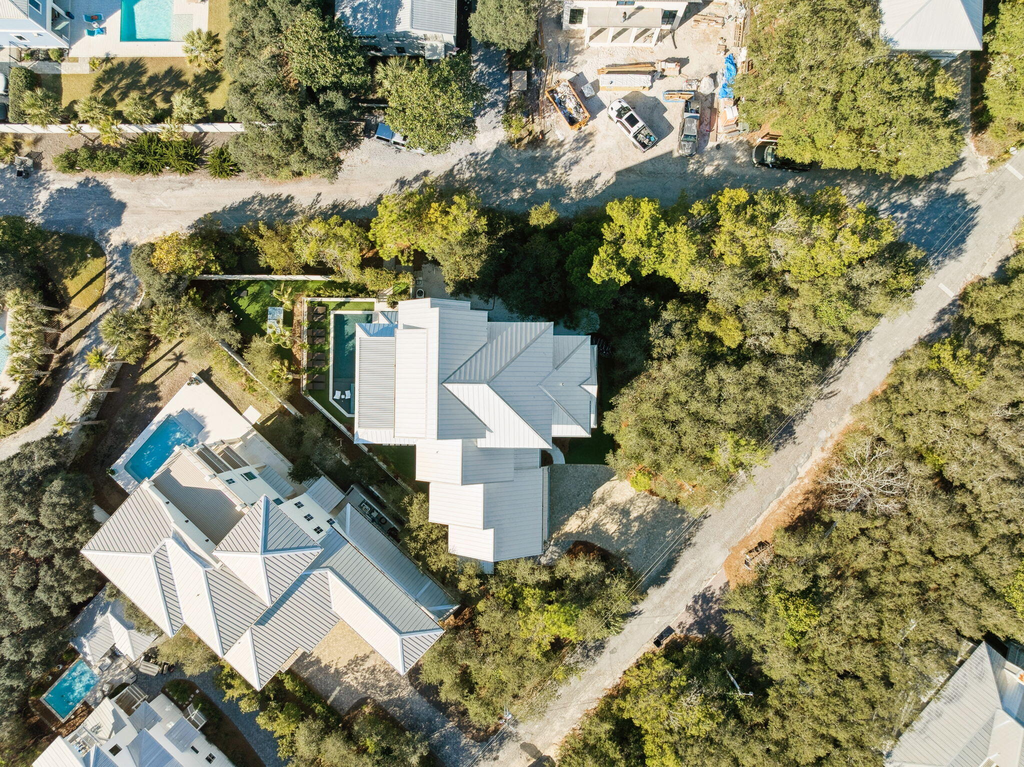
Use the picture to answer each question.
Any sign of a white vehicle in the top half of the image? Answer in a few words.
Yes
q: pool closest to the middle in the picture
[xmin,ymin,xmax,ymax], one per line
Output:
[332,314,373,414]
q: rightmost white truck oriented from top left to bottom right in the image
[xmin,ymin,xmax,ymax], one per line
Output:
[602,93,663,160]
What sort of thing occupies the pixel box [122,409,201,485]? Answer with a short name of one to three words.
swimming pool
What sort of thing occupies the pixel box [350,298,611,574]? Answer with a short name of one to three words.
house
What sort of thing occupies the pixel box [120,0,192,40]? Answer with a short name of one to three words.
swimming pool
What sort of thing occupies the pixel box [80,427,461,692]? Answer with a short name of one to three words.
house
